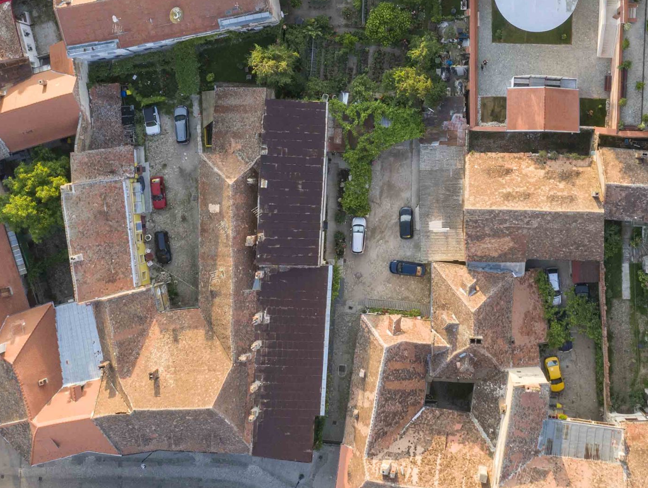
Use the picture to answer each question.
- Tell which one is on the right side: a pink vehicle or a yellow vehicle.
yellow vehicle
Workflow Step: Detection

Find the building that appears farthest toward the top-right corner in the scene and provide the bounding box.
[506,76,579,130]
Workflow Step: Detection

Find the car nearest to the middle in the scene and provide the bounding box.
[350,218,367,255]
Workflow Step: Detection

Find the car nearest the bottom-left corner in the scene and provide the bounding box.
[152,228,171,268]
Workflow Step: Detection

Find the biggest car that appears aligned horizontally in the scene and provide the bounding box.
[387,260,424,277]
